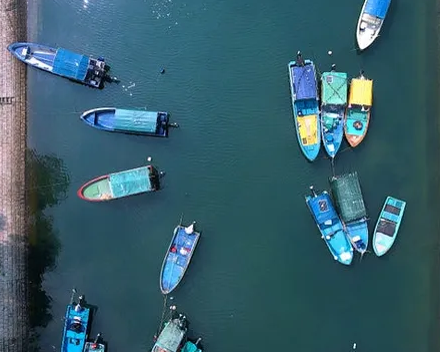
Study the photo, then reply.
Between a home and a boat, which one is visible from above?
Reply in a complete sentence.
It is a boat that can be seen here.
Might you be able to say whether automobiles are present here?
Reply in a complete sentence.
No, I can't see a single automobile in this photo.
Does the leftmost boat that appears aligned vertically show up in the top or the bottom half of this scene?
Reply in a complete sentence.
The leftmost boat that appears aligned vertically is in the bottom half of the image.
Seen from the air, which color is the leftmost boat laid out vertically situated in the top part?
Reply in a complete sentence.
The leftmost boat laid out vertically situated in the top part is blue.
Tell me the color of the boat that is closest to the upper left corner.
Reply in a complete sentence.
In this view, the boat that is closest to the upper left corner is blue.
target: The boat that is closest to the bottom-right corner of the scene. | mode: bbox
[374,197,406,257]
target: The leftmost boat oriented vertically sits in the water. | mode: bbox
[63,289,89,352]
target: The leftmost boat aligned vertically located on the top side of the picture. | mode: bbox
[290,53,322,162]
